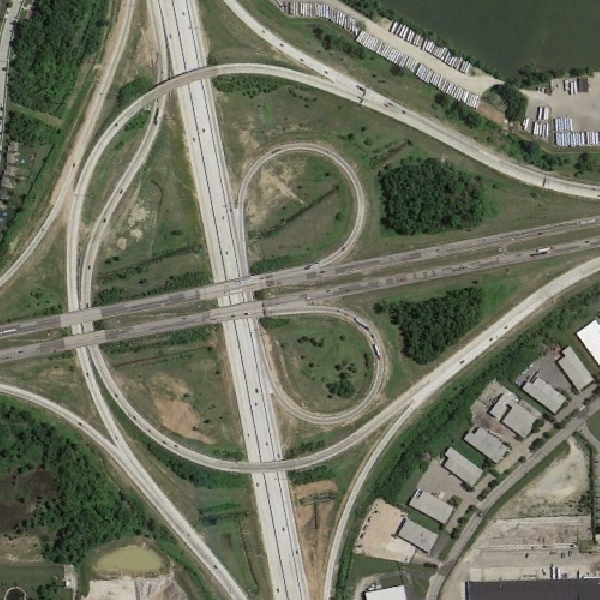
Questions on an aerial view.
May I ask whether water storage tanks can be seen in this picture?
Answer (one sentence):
No, I can't see a single water storage tank in this photo.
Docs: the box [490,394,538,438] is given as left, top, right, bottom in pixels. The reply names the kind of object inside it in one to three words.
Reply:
building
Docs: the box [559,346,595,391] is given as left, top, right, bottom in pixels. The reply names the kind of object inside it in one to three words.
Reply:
building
